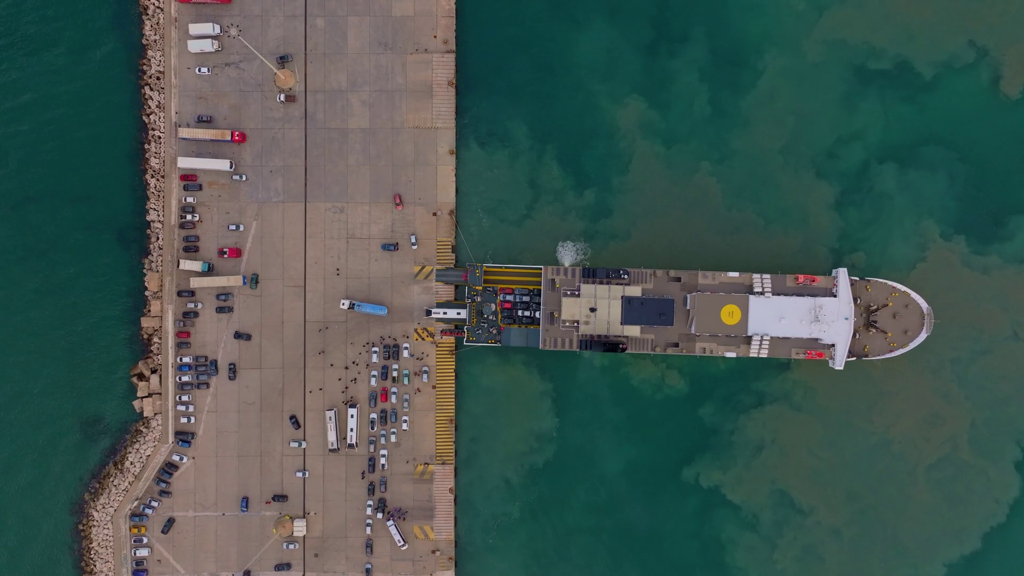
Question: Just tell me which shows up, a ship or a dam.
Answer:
ship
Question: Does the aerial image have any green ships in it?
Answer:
No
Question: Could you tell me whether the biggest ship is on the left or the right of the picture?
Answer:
right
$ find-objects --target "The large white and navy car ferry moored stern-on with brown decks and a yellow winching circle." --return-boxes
[432,263,943,370]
